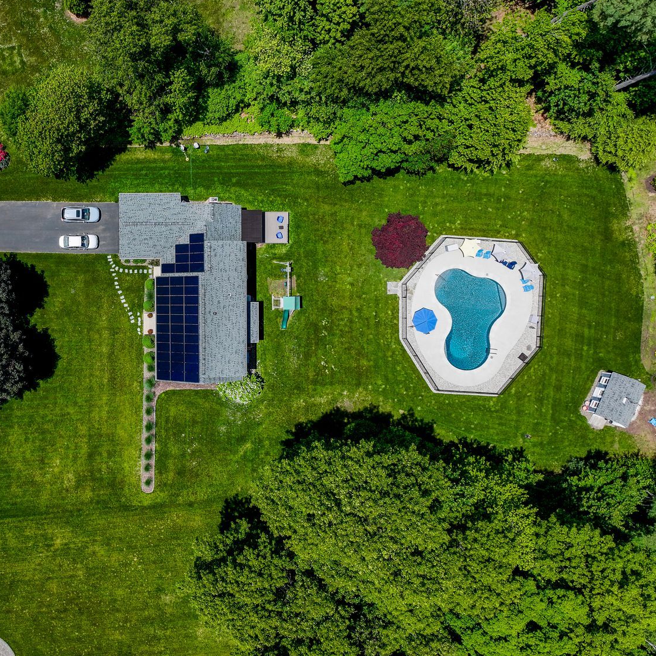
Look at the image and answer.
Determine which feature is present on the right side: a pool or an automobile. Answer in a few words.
pool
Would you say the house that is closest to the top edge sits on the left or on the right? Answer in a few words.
left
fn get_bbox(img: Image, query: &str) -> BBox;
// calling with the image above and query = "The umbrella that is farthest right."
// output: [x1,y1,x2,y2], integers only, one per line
[519,261,540,284]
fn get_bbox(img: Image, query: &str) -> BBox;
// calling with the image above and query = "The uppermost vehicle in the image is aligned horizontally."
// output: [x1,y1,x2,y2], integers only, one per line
[61,205,101,223]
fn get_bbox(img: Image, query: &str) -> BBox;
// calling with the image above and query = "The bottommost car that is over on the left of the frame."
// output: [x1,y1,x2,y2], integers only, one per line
[59,231,99,250]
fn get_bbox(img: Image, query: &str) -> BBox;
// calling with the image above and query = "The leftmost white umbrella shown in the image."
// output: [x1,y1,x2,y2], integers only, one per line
[458,238,480,257]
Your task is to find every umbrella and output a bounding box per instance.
[491,240,514,263]
[458,238,480,257]
[406,308,436,333]
[519,261,540,284]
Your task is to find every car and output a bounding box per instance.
[59,231,99,250]
[61,205,101,223]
